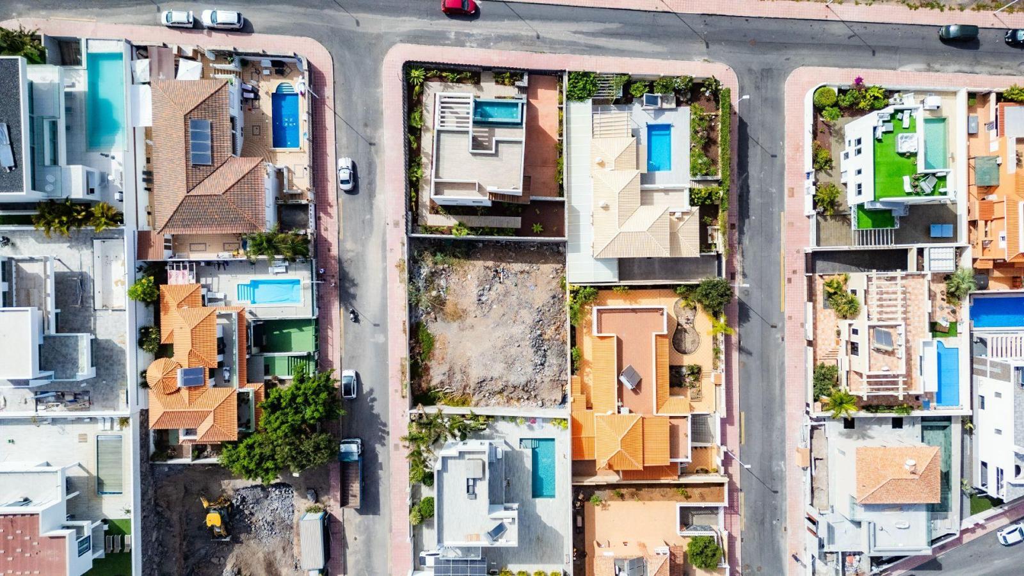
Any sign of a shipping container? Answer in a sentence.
Yes, I can see a shipping container in this picture.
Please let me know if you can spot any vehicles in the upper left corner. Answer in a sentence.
Yes, there is a vehicle in the upper left corner.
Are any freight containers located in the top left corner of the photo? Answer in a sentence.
No, I see no freight container in the top left corner of the photo.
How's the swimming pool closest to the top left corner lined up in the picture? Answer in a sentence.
From this overhead view, the swimming pool closest to the top left corner appears to run from top to bottom.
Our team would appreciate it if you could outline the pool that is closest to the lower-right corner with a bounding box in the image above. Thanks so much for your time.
[920,418,952,508]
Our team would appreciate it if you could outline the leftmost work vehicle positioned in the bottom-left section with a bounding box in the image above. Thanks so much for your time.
[195,489,234,545]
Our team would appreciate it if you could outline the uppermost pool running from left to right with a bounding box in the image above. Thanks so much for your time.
[473,99,524,123]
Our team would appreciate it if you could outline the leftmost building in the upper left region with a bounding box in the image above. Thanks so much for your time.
[0,56,97,201]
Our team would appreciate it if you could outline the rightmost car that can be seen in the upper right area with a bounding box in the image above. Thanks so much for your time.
[998,27,1024,47]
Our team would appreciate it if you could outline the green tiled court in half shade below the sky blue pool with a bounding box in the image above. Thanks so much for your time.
[260,319,317,353]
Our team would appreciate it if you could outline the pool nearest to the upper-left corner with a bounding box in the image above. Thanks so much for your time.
[85,50,126,152]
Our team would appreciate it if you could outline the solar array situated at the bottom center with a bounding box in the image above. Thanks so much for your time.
[434,550,488,576]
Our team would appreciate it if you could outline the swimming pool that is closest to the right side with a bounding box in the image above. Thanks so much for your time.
[970,295,1024,328]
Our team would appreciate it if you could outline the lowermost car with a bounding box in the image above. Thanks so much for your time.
[419,550,440,569]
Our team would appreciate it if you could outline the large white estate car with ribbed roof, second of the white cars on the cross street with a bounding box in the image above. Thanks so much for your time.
[203,10,244,30]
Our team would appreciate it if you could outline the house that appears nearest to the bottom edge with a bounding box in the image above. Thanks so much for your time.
[593,537,684,576]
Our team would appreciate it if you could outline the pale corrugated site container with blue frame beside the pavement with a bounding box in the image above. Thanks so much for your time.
[302,509,330,572]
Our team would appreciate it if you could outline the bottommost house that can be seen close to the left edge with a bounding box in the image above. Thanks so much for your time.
[0,457,108,576]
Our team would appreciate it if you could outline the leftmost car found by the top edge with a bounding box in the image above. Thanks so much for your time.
[162,10,195,28]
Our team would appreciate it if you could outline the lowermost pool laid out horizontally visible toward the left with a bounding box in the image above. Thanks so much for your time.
[234,276,304,307]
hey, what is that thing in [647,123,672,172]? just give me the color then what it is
blue swimming pool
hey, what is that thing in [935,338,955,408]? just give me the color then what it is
blue swimming pool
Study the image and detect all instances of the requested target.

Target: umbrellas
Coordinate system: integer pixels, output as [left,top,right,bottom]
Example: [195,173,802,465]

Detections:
[180,58,204,79]
[131,59,150,84]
